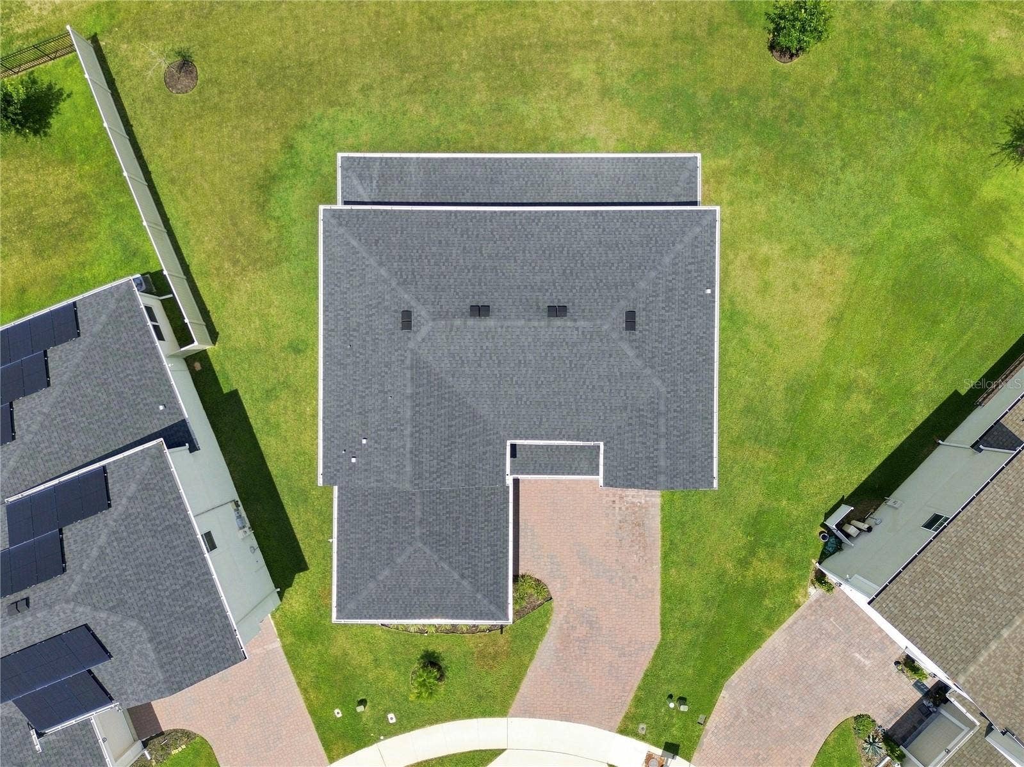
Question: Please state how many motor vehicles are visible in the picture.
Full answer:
The picture shows no motor vehicles.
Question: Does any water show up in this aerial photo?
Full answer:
No, water can't be seen anywhere here.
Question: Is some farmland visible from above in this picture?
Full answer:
No, the picture contains no farmland.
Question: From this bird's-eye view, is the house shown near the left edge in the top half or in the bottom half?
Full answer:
You can find the house shown near the left edge in the bottom half.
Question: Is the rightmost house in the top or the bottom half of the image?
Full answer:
It is in the bottom half that the rightmost house appears.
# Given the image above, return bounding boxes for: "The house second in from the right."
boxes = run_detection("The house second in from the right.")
[320,153,719,622]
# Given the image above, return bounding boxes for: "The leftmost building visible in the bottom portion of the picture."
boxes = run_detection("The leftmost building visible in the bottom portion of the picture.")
[0,277,285,767]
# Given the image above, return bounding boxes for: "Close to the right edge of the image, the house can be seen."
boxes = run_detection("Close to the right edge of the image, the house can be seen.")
[820,363,1024,767]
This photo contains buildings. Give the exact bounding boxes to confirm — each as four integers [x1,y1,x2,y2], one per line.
[0,277,285,767]
[320,153,719,622]
[820,363,1024,767]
